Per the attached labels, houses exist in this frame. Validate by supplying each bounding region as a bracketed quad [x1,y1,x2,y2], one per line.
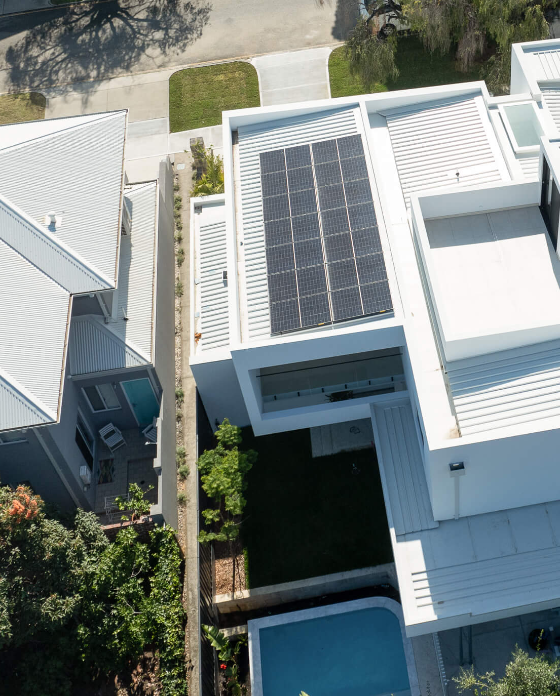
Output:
[0,105,156,511]
[185,39,560,639]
